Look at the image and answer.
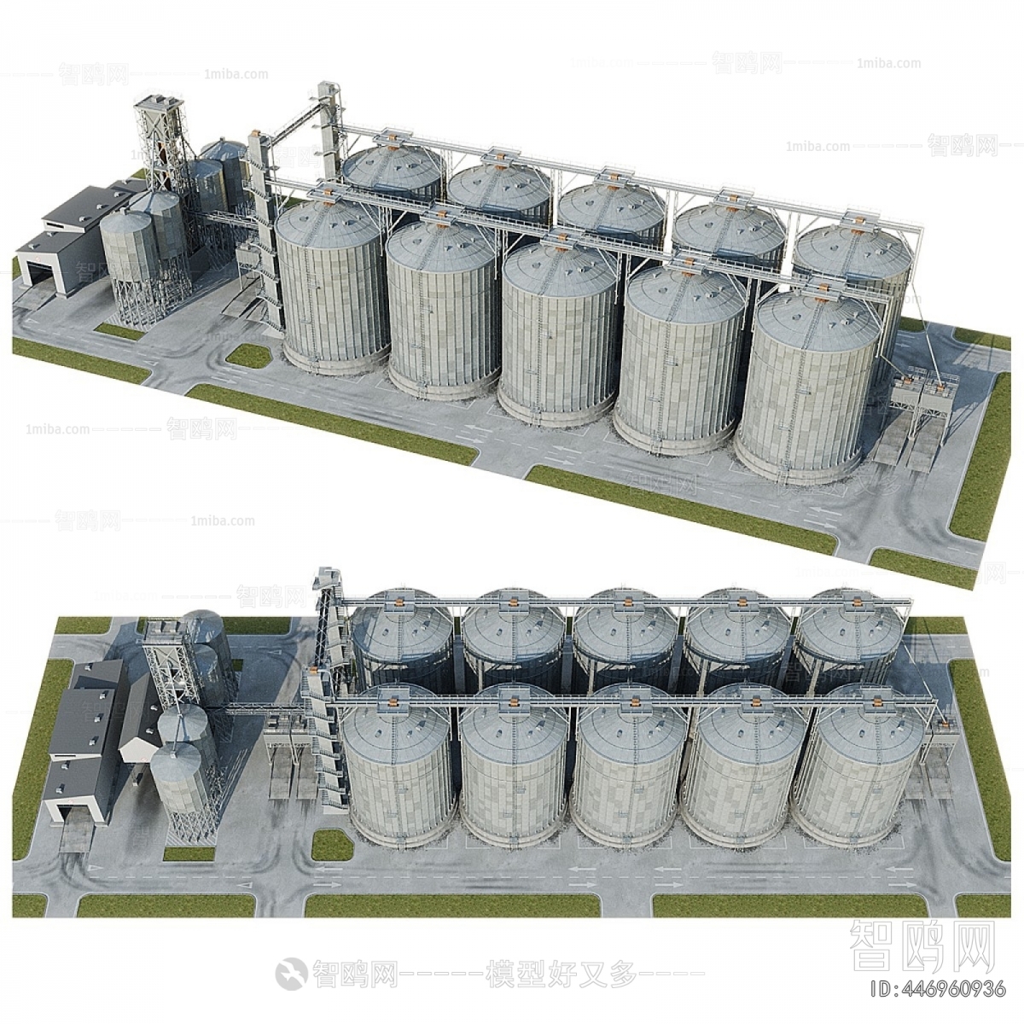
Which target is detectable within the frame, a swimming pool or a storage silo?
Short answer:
storage silo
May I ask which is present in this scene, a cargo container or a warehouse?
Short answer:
warehouse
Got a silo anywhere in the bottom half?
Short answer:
Yes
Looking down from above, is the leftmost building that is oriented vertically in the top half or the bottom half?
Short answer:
bottom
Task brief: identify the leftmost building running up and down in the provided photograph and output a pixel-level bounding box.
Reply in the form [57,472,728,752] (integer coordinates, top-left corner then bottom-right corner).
[43,653,132,826]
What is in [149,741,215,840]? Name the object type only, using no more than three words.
silo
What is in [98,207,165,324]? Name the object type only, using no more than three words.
silo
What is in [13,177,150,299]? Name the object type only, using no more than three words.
warehouse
